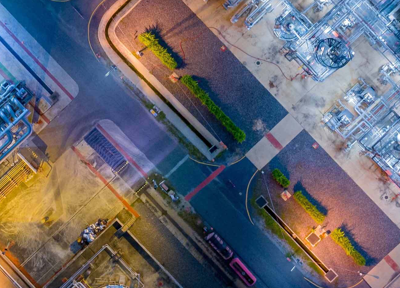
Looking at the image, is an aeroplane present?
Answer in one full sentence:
No, no aeroplane can be seen from above.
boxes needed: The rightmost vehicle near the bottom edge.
[230,259,258,288]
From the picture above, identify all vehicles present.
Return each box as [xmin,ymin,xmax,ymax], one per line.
[230,259,258,288]
[207,233,234,262]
